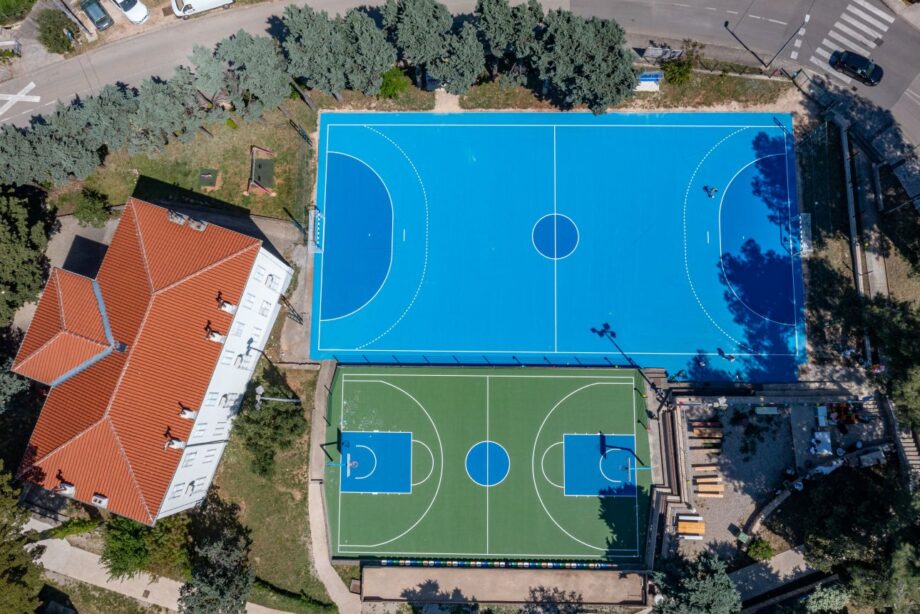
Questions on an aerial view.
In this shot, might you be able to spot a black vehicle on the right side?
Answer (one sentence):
Yes, a black vehicle can be seen on the right side.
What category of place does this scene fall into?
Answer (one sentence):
The area seen from above is a sports ground.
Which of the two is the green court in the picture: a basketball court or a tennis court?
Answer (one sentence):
I'd say the green court is a basketball court.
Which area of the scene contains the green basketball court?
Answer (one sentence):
The green basketball court sits in the bottom section of the image.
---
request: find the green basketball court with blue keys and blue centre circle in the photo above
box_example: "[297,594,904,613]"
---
[328,368,651,566]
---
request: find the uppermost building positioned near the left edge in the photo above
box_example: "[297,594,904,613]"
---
[8,195,296,529]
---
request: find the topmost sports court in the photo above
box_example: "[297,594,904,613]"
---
[310,111,807,384]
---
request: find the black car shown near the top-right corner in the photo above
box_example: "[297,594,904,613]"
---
[827,49,887,84]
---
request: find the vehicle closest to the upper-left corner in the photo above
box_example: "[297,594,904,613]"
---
[79,0,114,31]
